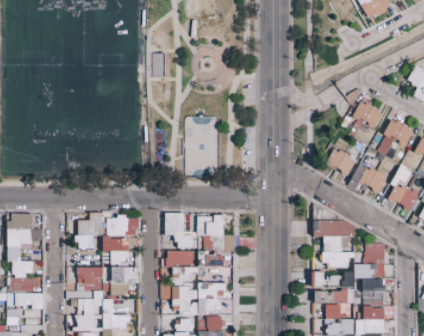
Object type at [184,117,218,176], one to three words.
sports court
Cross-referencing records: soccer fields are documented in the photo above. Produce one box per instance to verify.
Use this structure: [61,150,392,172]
[1,0,141,173]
